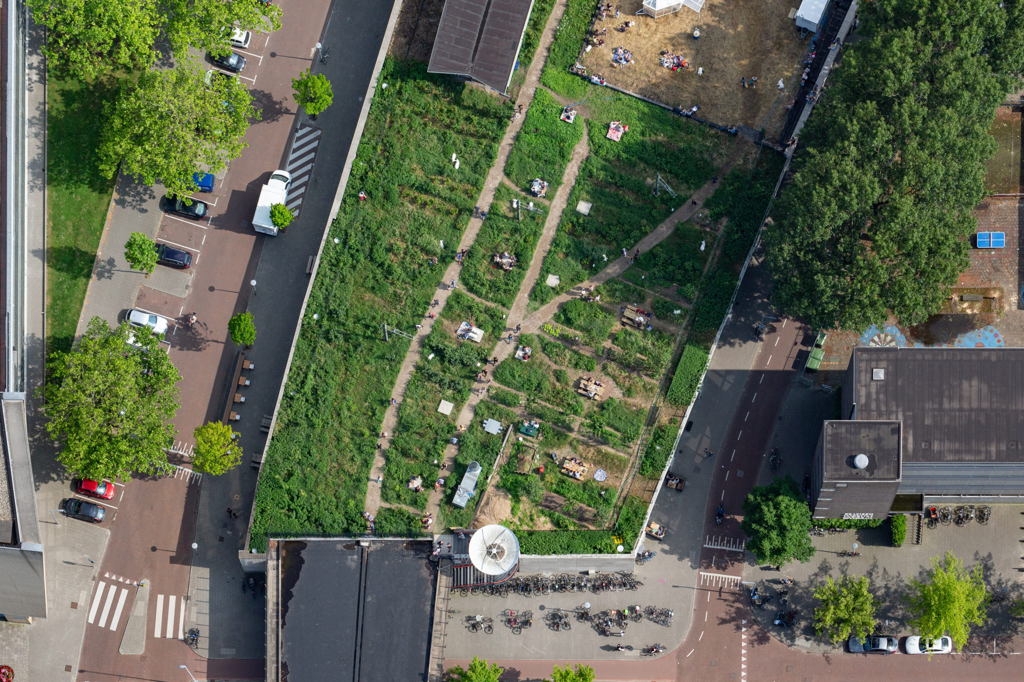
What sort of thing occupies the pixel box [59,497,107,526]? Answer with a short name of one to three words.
car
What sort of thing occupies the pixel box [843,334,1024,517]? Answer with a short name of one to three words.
building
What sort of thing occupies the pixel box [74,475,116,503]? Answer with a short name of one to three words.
car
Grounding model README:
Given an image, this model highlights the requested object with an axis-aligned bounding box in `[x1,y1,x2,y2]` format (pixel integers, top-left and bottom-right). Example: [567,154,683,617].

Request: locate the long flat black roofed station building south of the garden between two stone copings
[267,538,454,682]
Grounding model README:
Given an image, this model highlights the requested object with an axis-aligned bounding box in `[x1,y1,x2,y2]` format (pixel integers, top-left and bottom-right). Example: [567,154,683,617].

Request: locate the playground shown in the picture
[801,0,1024,386]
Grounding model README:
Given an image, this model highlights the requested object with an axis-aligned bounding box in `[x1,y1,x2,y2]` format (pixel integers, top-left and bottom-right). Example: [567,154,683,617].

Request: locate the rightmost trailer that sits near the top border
[796,0,829,38]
